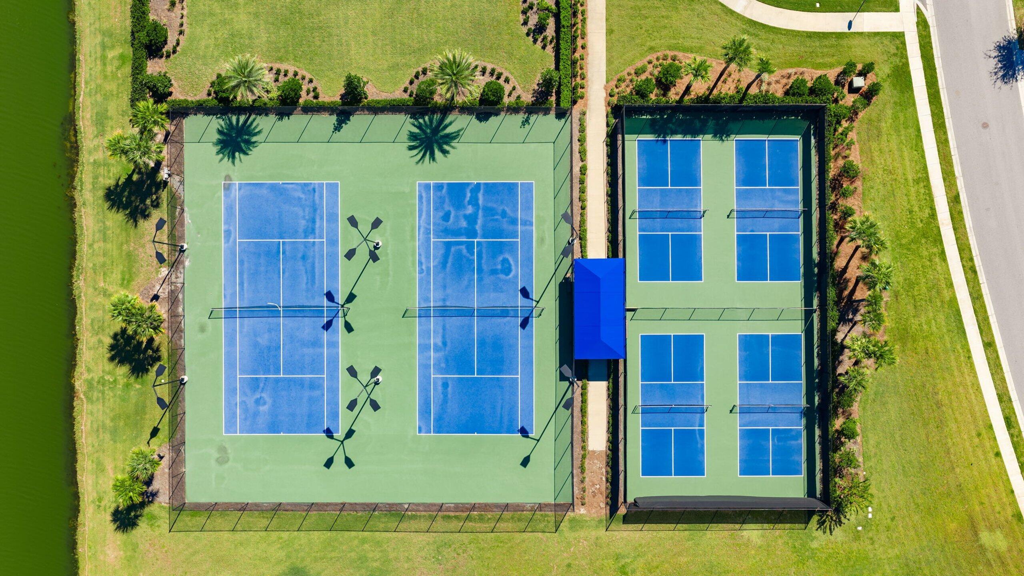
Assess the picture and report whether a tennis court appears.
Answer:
Yes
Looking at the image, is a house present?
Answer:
No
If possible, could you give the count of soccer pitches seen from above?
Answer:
0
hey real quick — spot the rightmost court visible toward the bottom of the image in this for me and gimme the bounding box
[721,308,820,501]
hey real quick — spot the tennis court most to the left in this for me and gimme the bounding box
[183,115,378,502]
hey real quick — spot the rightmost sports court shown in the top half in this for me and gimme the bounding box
[719,112,817,308]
